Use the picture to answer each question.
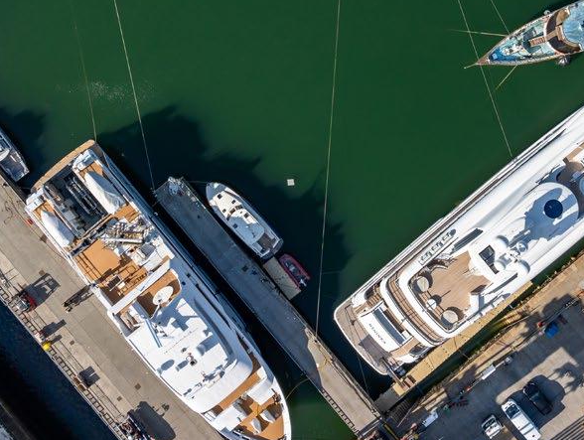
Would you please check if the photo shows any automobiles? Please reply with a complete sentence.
Yes, I can see an automobile in this picture.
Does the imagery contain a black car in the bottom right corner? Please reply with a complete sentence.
Yes, I can see a black car in the bottom right corner.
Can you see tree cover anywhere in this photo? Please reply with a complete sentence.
No, there's no tree cover in this view.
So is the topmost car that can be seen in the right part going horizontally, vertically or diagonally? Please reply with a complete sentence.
The topmost car that can be seen in the right part is oriented diagonally.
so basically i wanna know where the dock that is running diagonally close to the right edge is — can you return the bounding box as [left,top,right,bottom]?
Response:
[393,254,570,398]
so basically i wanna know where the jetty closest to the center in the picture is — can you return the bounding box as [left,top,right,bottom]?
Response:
[264,256,300,301]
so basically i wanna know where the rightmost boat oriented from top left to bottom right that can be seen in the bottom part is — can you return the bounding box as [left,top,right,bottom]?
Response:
[278,253,311,292]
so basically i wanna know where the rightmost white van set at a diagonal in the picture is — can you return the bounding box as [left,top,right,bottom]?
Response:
[501,400,542,440]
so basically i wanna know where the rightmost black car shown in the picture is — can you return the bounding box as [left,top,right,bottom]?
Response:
[522,380,554,417]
